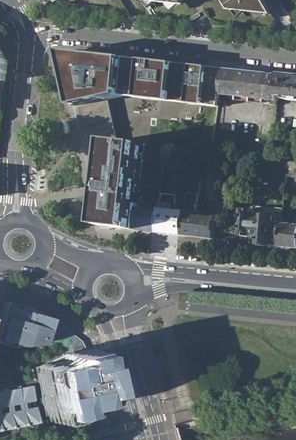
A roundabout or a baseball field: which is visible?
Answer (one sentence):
The one in the frame is a roundabout.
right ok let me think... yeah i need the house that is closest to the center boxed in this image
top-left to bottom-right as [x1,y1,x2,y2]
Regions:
[151,206,180,235]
